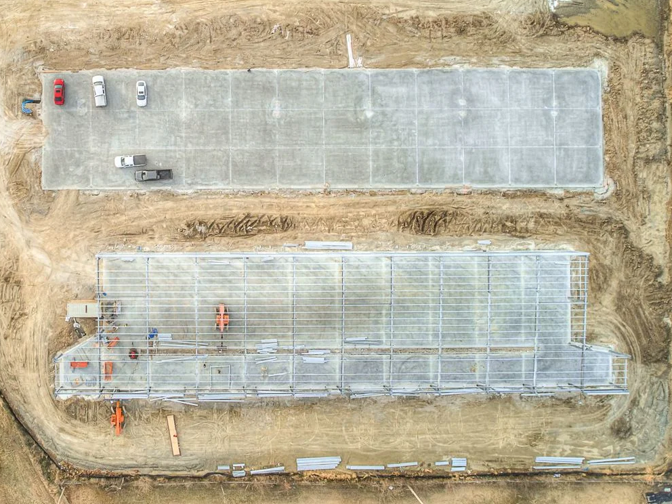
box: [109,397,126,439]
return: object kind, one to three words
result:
work vehicle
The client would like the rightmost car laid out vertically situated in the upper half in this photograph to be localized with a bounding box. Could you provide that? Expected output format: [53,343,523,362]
[134,79,148,107]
